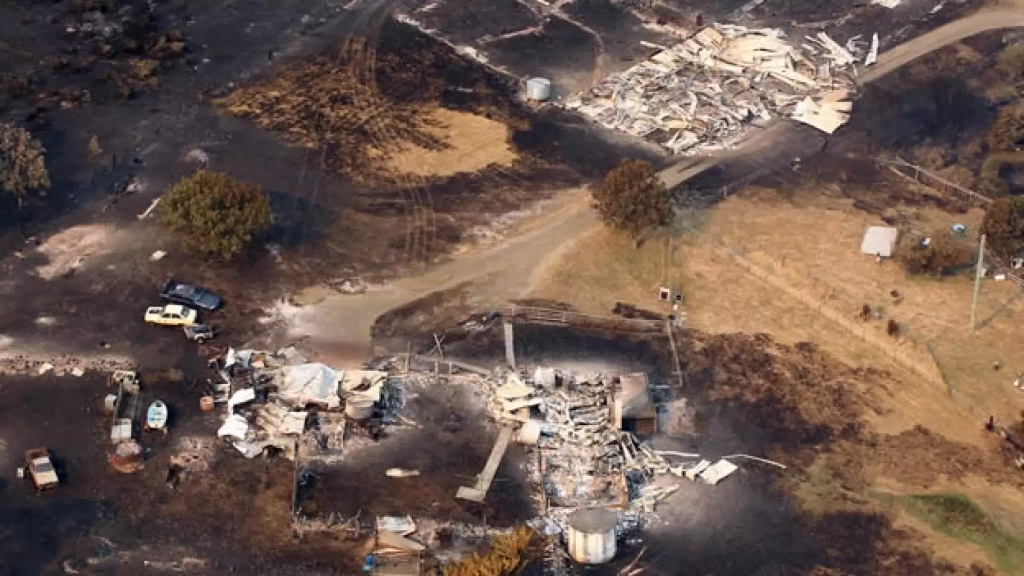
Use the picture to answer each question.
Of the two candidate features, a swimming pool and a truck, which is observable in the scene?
truck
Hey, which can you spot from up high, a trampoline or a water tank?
water tank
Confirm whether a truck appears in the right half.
No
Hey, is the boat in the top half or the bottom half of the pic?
bottom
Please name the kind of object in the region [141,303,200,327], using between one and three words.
car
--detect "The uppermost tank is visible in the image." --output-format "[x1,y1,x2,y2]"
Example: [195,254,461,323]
[526,76,550,100]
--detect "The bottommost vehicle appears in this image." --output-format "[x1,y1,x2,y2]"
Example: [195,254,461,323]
[25,447,57,492]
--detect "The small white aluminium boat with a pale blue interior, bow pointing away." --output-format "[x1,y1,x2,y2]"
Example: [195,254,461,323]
[145,393,165,432]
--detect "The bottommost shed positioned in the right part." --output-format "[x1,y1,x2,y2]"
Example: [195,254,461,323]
[619,370,658,431]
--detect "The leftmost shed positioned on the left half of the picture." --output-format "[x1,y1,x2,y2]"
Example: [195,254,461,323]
[364,516,426,576]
